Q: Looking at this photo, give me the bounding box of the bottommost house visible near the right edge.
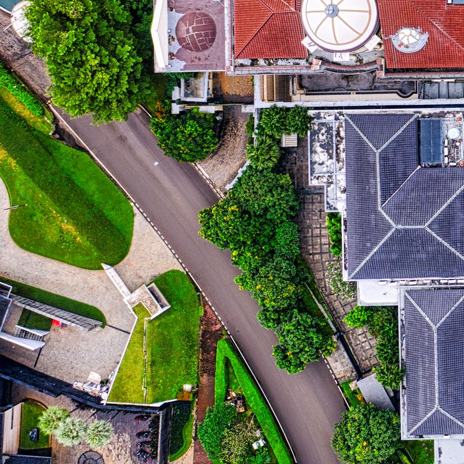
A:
[306,107,464,464]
